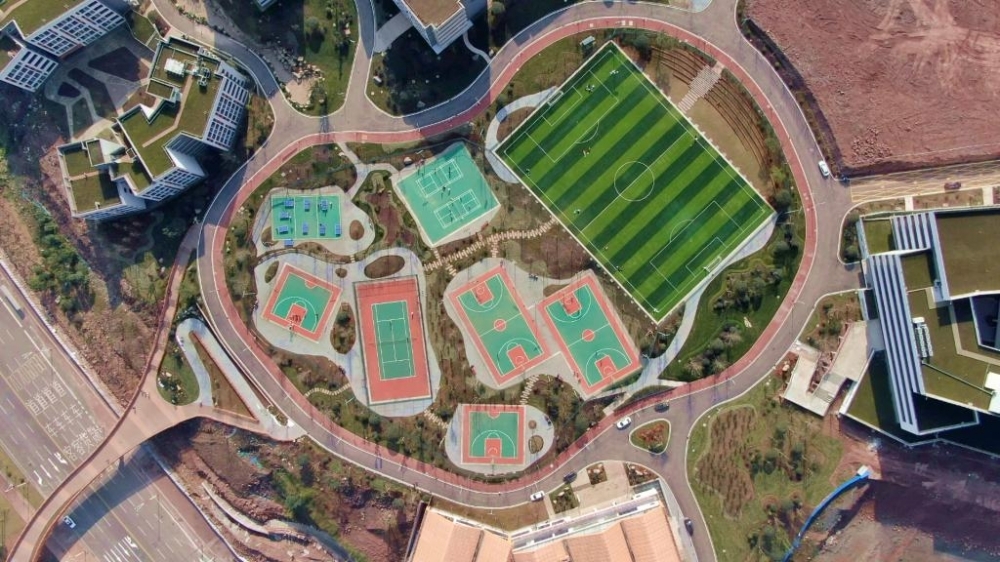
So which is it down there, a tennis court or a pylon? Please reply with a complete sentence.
Looking from above, you can make out a tennis court.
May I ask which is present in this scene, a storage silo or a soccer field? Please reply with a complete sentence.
Visible in the photo is a soccer field.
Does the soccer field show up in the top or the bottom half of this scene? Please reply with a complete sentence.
The soccer field sits in the top half of the picture.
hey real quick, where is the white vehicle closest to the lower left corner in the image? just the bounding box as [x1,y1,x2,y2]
[0,286,23,312]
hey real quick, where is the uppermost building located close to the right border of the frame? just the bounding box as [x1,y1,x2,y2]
[835,208,1000,457]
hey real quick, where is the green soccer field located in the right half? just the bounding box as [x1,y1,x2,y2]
[494,40,775,324]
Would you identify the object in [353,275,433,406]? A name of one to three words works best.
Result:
tennis court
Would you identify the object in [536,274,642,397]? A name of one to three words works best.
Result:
basketball court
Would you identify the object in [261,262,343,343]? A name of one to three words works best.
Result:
basketball court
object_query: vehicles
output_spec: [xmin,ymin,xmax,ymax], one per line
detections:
[945,183,960,190]
[616,419,631,429]
[529,492,544,501]
[819,160,830,175]
[563,473,578,484]
[685,519,693,534]
[0,286,23,312]
[60,516,74,528]
[654,403,669,411]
